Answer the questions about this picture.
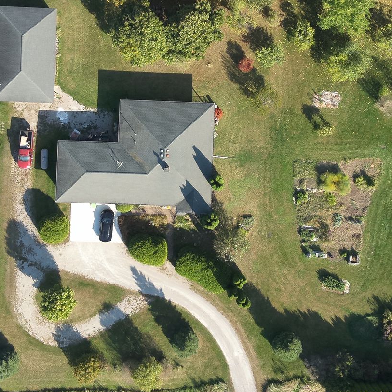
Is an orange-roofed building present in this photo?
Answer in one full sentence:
No, the photo shows no orange-roofed building.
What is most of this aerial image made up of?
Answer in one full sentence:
The largest share of the image is taken up by grass.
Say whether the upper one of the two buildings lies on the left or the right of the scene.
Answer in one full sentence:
The upper one of the two buildings sits on the left side.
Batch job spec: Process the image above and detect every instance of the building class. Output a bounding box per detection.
[0,6,58,104]
[55,99,228,216]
